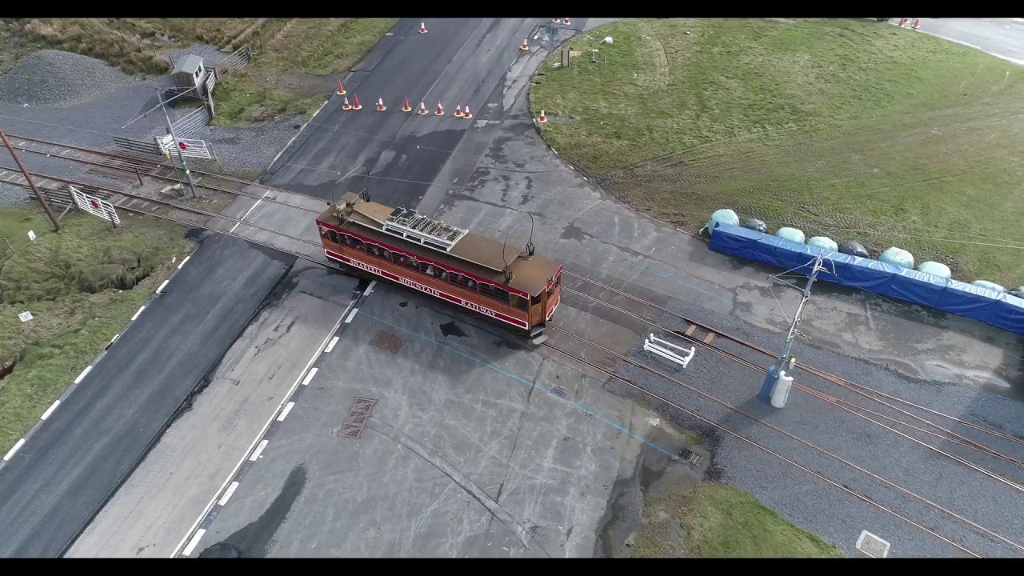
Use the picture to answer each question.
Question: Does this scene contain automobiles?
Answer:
No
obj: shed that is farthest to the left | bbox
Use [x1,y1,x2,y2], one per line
[169,51,203,101]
